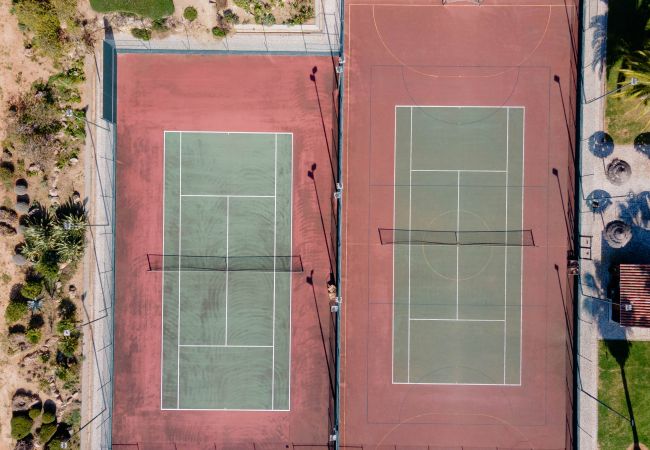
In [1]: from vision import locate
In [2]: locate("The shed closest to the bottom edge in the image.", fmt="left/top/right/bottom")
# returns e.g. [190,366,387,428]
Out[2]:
[604,263,650,328]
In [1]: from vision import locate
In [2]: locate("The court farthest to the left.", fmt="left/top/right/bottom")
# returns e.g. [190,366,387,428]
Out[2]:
[113,51,340,450]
